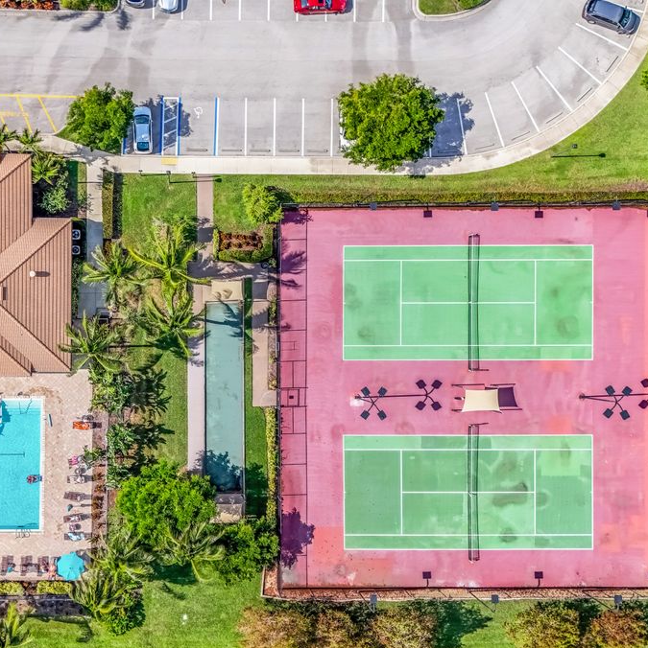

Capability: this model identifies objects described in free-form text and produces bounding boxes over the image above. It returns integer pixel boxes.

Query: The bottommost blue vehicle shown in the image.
[133,106,155,155]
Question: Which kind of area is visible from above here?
sports ground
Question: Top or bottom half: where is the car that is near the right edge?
top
